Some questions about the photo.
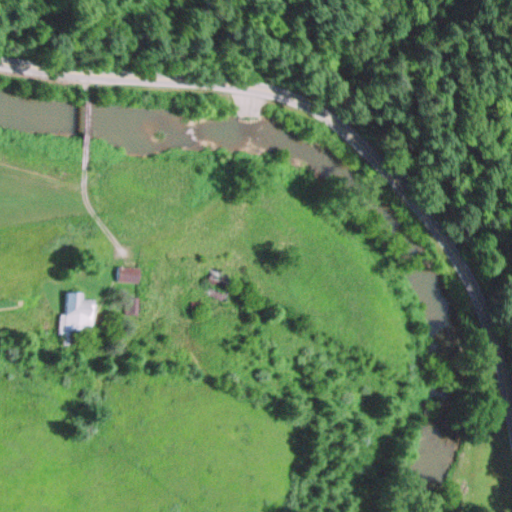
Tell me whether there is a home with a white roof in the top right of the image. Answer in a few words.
No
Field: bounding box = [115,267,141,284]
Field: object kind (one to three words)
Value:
barn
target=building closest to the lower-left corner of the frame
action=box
[57,290,96,346]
